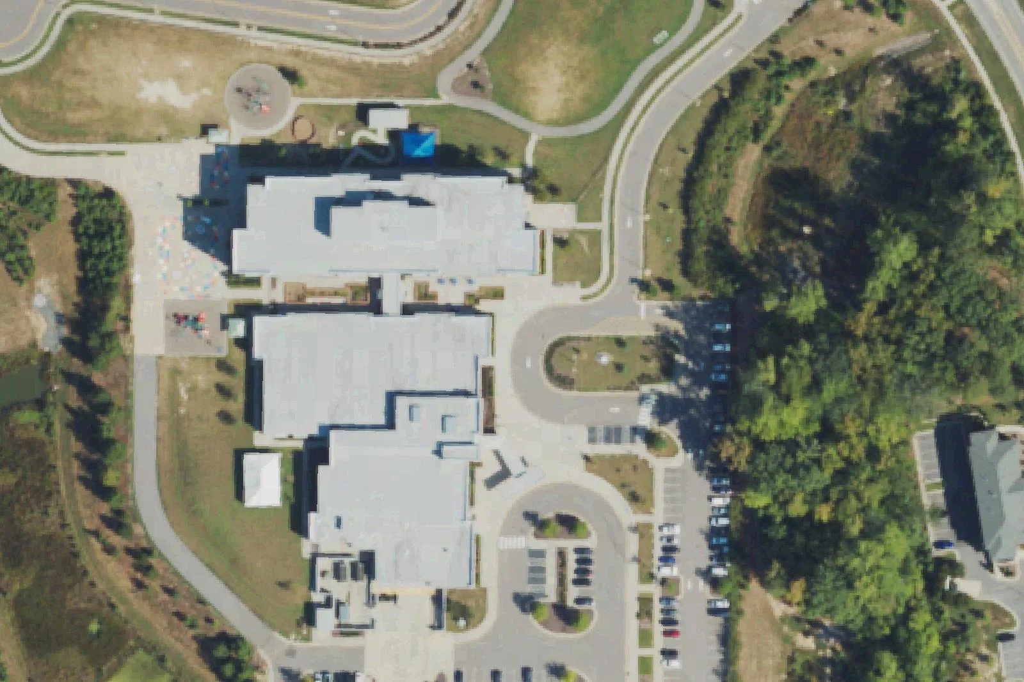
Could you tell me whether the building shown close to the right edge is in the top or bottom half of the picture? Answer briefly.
bottom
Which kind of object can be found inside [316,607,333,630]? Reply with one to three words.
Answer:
building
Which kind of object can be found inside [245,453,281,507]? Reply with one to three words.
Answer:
building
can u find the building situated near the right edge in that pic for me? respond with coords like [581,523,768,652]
[969,428,1024,563]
